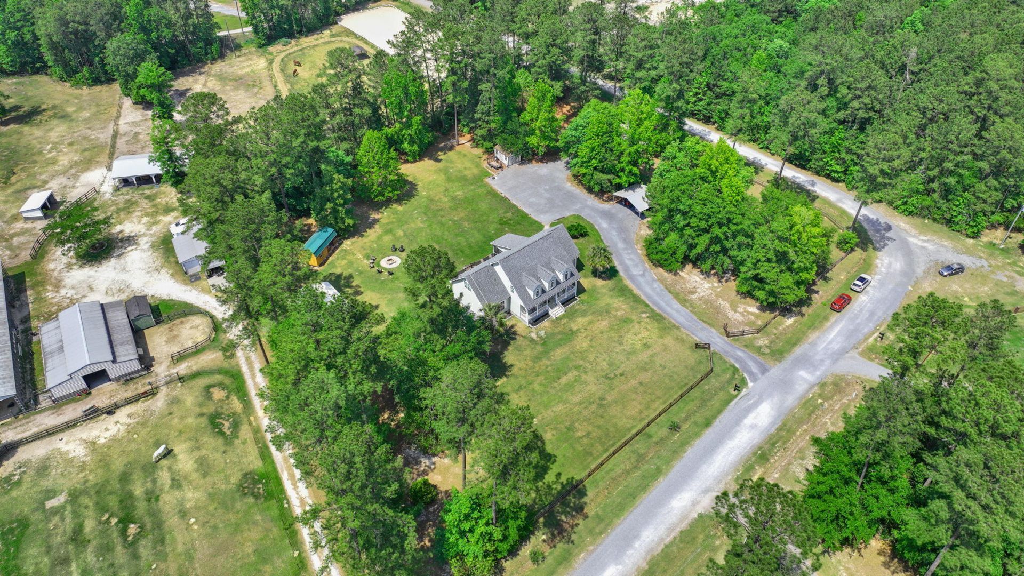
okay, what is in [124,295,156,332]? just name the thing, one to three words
shed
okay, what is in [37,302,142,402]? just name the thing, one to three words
barn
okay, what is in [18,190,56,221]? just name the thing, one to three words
shed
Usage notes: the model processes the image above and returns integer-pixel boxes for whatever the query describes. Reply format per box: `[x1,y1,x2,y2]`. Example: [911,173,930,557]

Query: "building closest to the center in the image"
[450,225,582,328]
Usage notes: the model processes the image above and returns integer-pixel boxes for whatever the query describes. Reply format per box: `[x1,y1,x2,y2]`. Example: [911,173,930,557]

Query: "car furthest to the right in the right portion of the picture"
[938,262,969,277]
